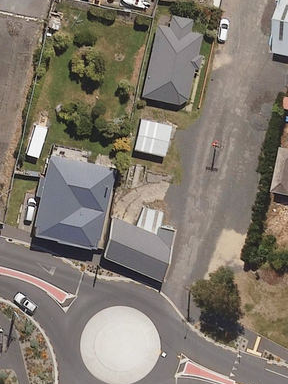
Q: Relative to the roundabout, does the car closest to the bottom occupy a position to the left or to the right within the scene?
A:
on its left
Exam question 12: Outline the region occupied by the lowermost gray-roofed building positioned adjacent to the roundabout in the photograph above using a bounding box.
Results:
[104,218,177,284]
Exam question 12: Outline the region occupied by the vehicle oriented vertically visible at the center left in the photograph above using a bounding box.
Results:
[24,198,36,225]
